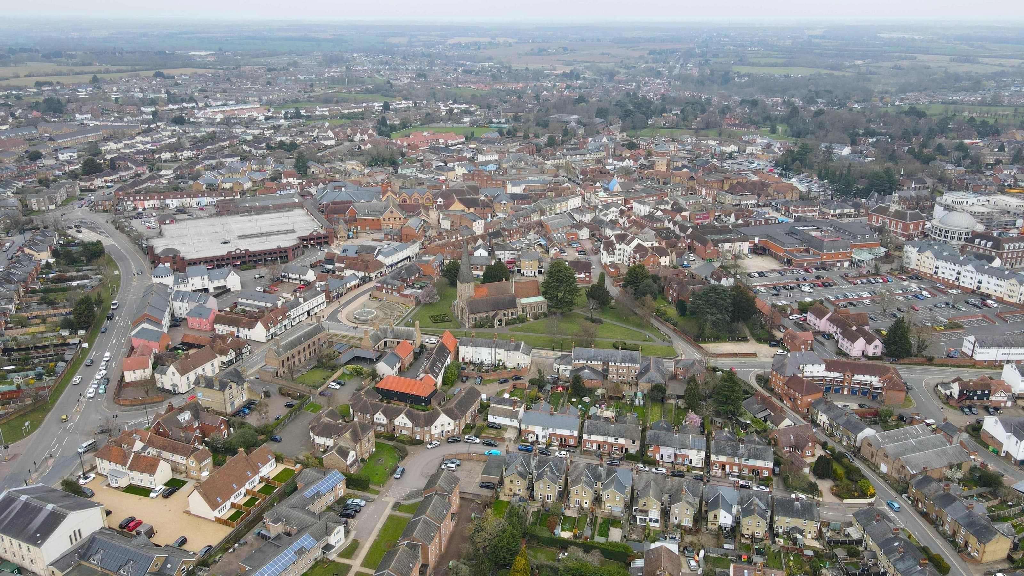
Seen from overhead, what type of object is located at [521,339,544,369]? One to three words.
house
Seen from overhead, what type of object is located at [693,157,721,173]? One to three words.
shed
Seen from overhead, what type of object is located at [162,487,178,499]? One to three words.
vehicle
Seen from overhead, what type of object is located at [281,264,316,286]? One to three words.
building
